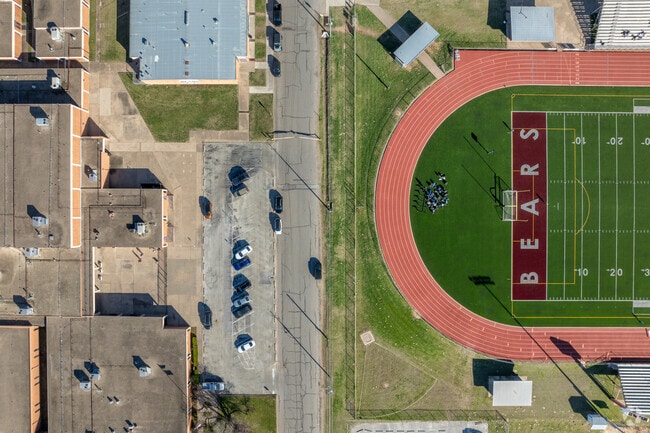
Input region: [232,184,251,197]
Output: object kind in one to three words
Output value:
vehicle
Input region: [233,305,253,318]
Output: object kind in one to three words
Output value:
vehicle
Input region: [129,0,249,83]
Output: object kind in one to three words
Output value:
building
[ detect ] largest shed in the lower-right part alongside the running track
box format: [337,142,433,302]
[489,378,532,406]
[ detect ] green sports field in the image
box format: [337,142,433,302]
[411,86,650,326]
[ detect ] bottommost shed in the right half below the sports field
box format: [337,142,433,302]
[584,411,607,430]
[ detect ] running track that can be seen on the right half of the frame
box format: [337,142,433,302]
[375,48,650,363]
